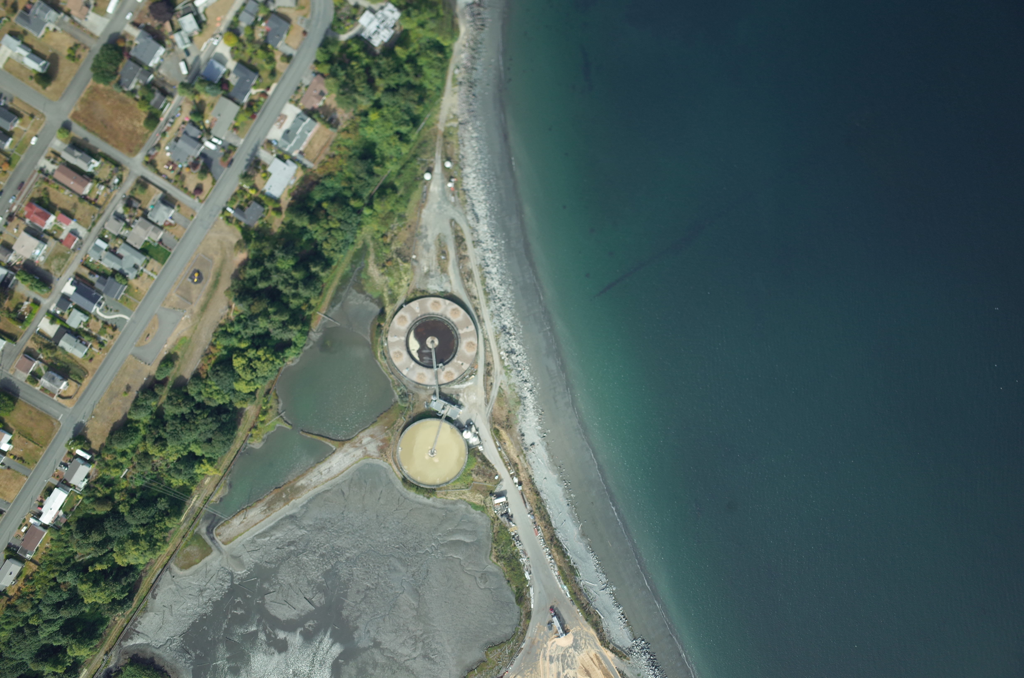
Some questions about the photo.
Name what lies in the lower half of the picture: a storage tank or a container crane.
storage tank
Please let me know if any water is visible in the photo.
Yes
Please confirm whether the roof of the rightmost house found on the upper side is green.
No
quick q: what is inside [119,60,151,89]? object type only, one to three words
house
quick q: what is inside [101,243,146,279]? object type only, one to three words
house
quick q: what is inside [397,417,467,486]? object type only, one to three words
storage tank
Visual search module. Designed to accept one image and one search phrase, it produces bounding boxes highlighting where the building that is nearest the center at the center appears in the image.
[430,400,463,420]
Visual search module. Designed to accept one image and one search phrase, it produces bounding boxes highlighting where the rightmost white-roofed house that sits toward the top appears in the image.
[358,4,394,48]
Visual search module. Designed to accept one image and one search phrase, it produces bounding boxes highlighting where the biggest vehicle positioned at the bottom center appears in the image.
[549,607,565,638]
